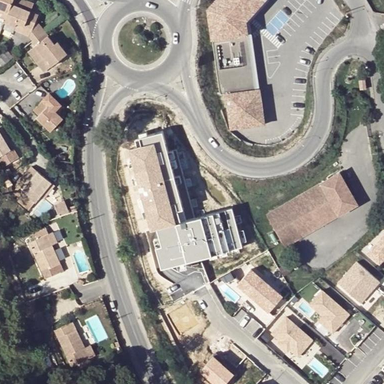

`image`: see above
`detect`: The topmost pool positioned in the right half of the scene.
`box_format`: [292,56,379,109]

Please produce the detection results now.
[220,283,241,302]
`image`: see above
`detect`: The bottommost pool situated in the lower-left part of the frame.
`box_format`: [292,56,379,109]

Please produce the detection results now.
[84,314,108,343]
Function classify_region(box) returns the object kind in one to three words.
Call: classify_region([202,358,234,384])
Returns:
house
